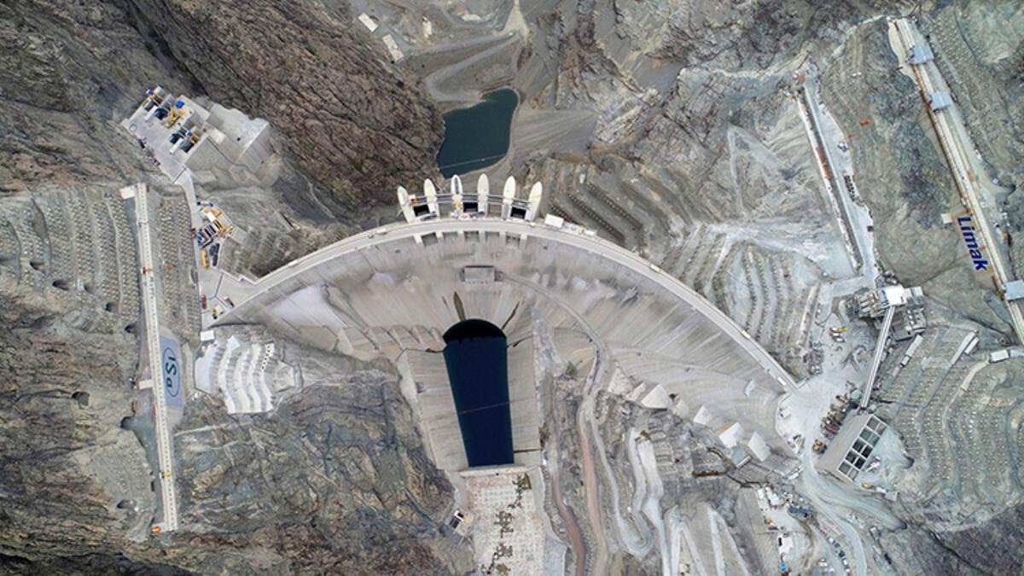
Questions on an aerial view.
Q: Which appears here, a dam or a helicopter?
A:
dam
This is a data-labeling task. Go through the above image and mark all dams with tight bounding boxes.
[204,174,801,468]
